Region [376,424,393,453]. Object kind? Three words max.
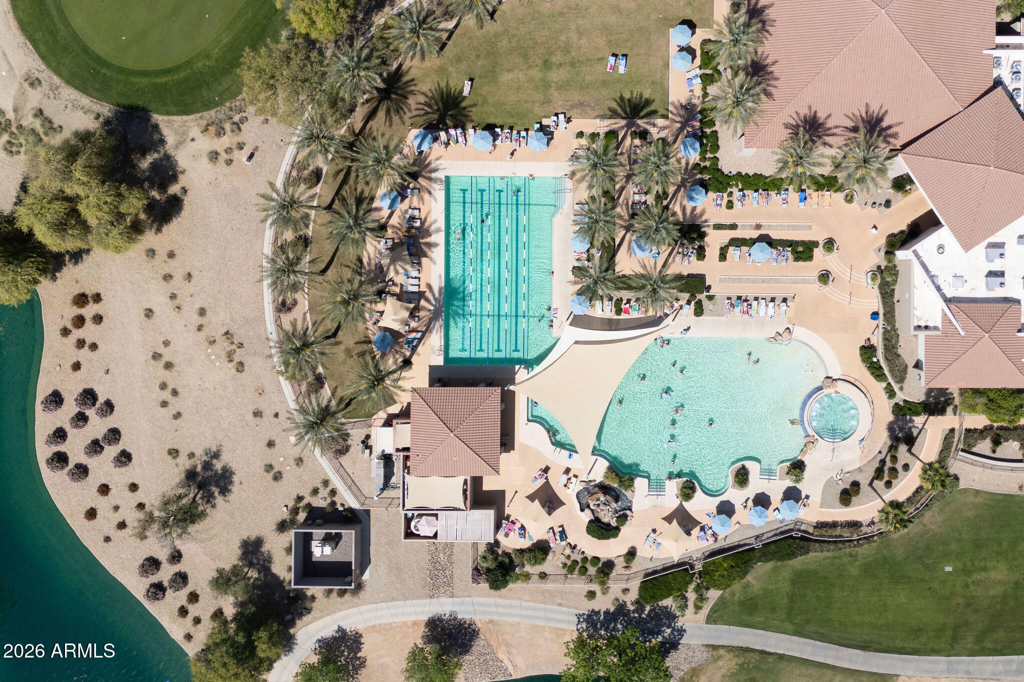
shed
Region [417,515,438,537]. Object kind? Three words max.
umbrella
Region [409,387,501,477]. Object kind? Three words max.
building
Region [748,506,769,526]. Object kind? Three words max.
umbrella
